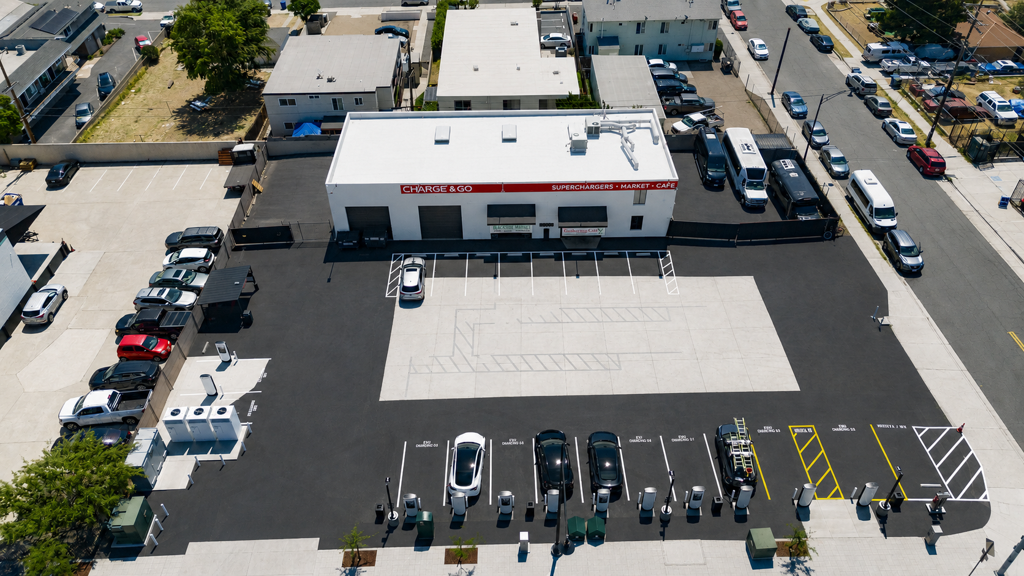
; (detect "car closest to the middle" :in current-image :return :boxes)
[398,257,427,302]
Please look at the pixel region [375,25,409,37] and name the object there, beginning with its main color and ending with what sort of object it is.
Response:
blue vehicle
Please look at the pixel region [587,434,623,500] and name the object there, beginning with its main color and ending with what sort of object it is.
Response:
black car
